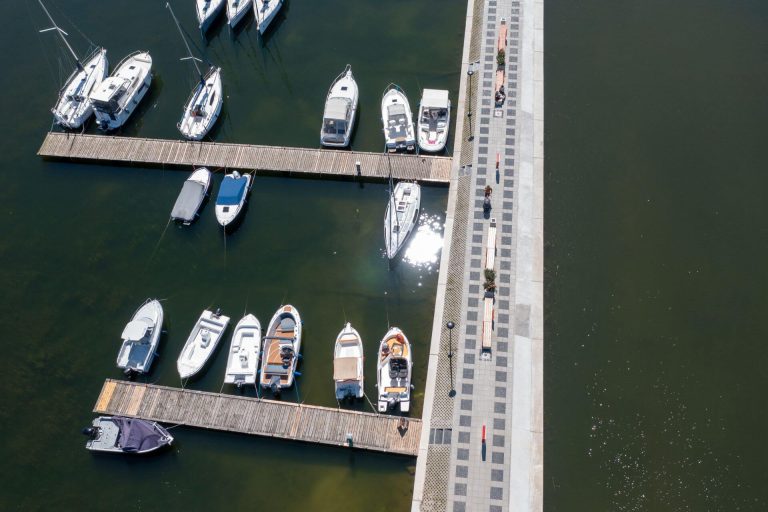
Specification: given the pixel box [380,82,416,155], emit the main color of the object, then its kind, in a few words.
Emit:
white boat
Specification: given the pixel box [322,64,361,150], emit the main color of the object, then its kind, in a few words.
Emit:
white boat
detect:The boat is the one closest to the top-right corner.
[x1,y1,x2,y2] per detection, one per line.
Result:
[416,87,453,152]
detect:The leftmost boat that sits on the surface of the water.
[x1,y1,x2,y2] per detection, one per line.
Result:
[22,0,108,131]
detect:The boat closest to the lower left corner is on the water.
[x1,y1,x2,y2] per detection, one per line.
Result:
[81,418,176,453]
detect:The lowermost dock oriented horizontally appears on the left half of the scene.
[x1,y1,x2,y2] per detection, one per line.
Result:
[92,379,422,457]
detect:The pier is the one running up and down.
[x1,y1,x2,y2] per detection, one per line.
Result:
[411,0,543,512]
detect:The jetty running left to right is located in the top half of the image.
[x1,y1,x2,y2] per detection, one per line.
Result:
[34,132,452,186]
